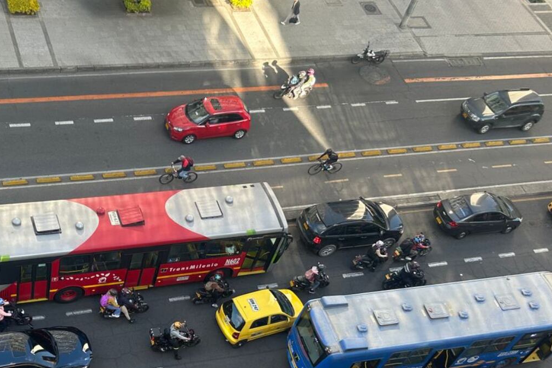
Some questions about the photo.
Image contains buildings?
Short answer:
No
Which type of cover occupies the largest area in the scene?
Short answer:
paved ground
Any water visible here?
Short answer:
No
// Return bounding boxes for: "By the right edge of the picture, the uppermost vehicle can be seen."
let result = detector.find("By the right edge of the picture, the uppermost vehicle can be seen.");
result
[458,82,546,131]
